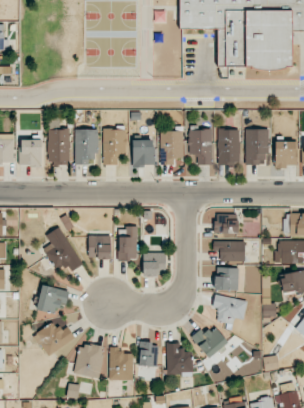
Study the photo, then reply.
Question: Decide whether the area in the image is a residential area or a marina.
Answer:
residential area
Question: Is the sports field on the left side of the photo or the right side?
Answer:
left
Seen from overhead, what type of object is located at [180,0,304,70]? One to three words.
building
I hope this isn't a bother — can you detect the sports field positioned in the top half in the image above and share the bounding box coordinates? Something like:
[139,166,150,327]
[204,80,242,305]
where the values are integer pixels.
[22,0,83,86]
